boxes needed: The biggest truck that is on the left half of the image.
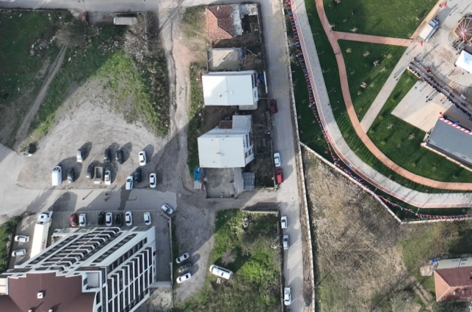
[24,211,48,262]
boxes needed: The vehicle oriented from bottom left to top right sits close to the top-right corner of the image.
[421,22,437,41]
